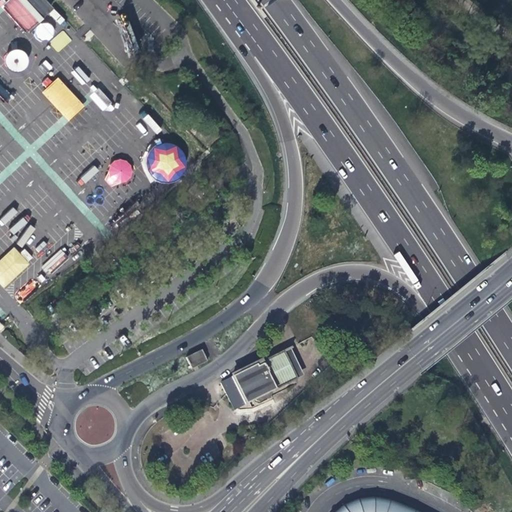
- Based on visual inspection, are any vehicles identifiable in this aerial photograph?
Yes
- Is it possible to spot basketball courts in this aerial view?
No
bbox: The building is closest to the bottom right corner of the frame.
[268,346,304,388]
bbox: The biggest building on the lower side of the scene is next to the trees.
[221,358,278,409]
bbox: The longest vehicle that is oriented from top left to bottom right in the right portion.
[394,252,422,289]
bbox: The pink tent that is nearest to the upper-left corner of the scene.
[105,159,134,187]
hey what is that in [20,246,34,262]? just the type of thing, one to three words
vehicle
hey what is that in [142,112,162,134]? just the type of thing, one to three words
truck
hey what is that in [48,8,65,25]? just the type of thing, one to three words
vehicle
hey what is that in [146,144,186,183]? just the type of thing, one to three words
tent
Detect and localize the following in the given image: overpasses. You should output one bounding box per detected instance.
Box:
[216,246,512,512]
